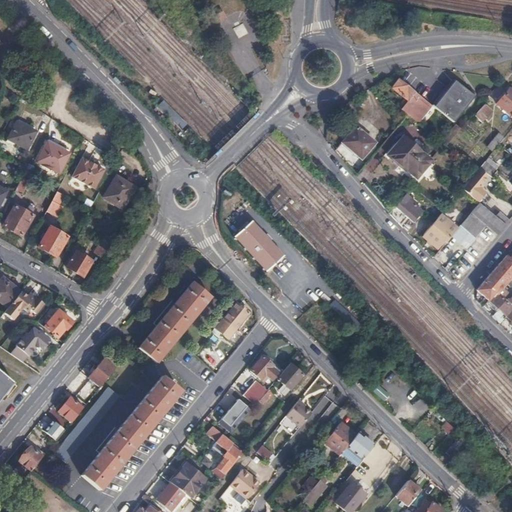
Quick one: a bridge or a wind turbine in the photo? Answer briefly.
bridge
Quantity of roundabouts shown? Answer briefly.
2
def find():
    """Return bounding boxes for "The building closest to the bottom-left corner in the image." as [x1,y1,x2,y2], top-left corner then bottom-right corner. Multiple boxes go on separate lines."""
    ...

[18,445,44,472]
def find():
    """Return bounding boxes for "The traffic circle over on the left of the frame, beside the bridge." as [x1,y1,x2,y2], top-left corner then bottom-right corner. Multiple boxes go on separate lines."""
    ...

[158,170,216,226]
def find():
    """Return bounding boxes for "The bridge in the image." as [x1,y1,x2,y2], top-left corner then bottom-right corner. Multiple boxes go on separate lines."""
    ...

[209,110,276,171]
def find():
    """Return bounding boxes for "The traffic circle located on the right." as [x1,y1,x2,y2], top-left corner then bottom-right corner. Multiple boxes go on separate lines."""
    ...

[290,34,356,100]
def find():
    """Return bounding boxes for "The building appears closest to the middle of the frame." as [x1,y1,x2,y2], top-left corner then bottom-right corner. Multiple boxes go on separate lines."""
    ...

[235,221,285,274]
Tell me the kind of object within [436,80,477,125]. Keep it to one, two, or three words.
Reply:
building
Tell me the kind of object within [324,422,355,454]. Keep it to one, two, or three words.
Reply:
house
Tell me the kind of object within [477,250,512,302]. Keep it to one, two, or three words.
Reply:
building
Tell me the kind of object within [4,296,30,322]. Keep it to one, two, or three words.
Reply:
house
